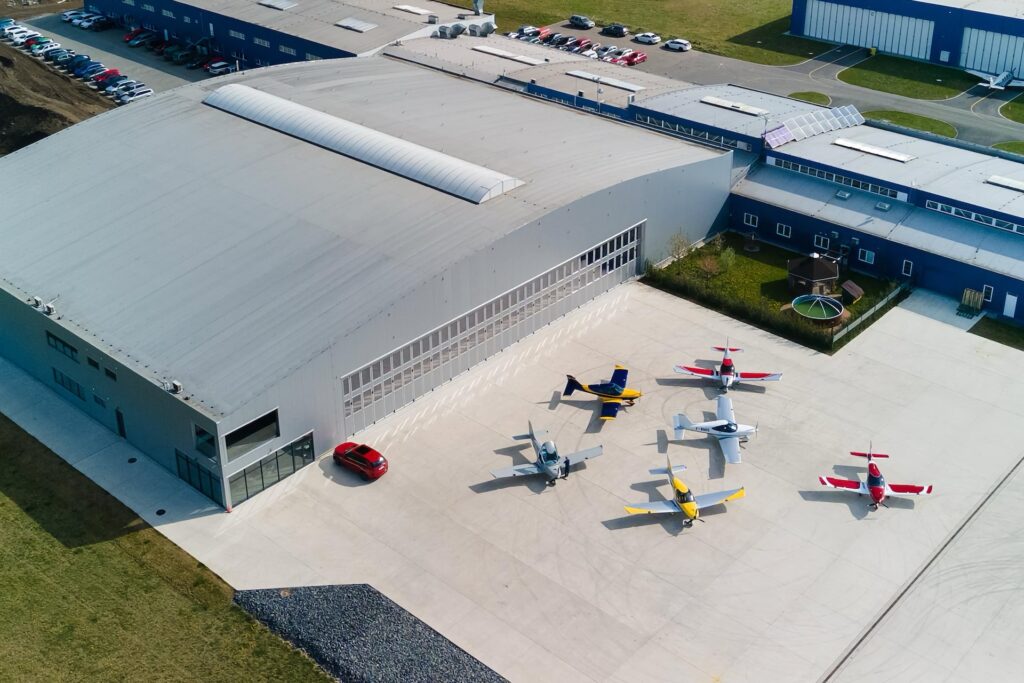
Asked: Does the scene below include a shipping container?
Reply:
No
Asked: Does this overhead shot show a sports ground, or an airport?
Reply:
airport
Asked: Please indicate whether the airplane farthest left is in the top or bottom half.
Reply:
bottom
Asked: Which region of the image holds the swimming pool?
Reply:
right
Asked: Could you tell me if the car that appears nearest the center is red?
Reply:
Yes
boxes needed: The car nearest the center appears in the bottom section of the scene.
[328,446,388,485]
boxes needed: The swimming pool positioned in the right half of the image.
[794,295,844,328]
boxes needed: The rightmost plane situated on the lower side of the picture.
[818,436,930,508]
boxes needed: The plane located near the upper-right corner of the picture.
[969,68,1024,91]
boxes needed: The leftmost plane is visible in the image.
[490,418,603,485]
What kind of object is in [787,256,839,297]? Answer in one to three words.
gazebo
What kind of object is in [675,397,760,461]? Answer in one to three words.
airplane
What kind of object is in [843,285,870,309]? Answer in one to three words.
shed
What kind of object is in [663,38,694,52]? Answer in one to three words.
car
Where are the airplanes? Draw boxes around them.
[675,333,781,395]
[969,68,1024,91]
[675,397,760,461]
[564,365,644,419]
[818,436,930,508]
[490,418,603,485]
[624,451,743,525]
